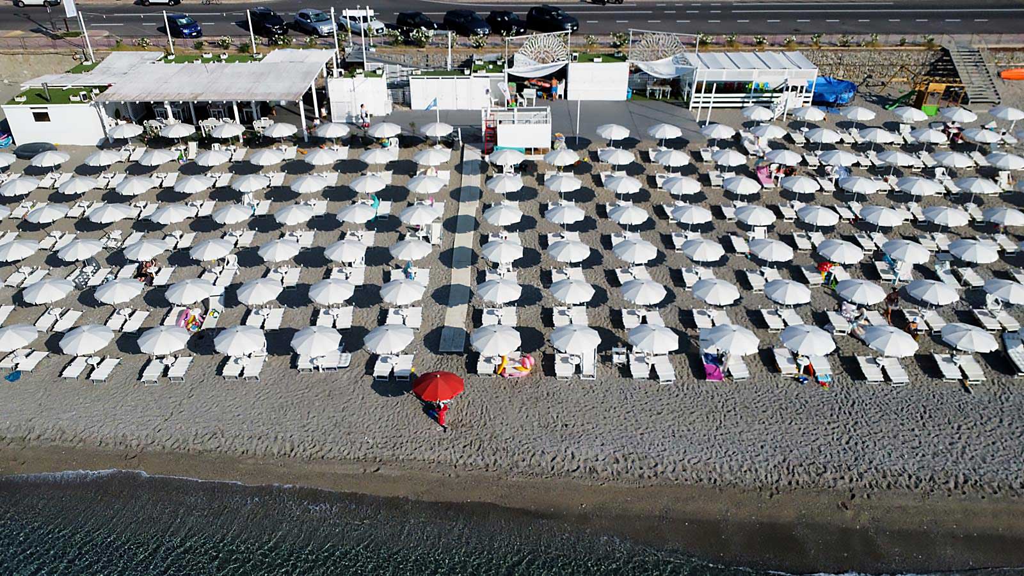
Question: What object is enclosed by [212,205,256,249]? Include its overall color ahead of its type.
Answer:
white umbrella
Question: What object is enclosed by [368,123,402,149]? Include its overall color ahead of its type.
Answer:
white umbrella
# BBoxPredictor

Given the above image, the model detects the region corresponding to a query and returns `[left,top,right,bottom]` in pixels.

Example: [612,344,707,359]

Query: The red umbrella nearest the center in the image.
[411,369,466,417]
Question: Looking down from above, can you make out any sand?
Yes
